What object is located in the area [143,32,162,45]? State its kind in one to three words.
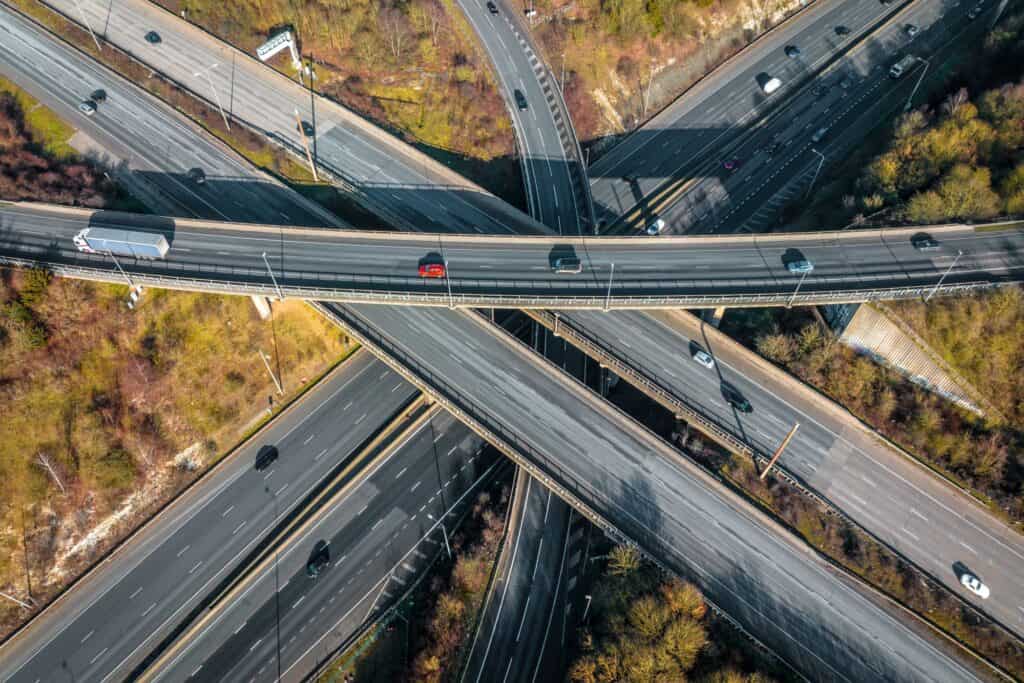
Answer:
vehicle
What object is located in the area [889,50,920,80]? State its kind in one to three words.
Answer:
truck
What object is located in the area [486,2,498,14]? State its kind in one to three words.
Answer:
vehicle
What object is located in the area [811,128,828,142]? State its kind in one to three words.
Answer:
car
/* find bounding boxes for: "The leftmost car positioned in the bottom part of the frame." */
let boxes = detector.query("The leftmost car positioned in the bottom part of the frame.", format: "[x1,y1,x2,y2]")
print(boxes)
[252,447,279,472]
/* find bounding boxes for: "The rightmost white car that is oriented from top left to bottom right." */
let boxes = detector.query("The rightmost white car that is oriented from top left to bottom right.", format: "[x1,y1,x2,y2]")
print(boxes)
[957,571,992,601]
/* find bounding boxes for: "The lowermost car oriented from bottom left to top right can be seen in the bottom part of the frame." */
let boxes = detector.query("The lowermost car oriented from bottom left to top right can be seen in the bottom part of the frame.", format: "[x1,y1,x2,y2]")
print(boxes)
[304,548,331,576]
